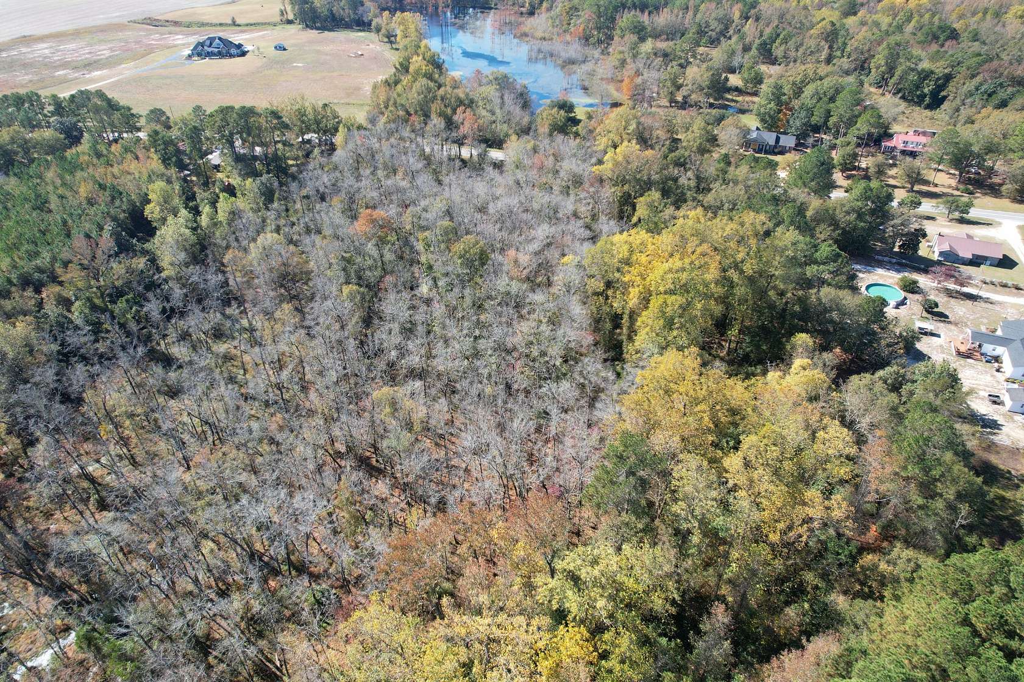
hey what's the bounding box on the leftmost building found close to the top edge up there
[187,33,250,58]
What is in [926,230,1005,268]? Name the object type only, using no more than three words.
house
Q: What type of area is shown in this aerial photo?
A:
forest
